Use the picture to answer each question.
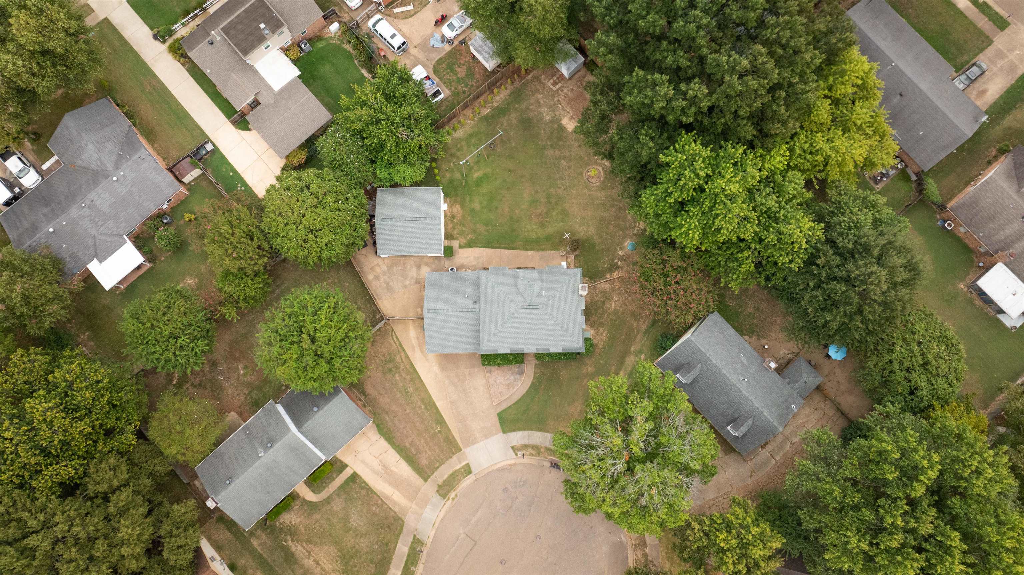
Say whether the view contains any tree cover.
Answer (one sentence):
Yes, some tree cover is visible.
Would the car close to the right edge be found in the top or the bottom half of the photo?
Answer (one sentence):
The top half of the photo is where the car close to the right edge is.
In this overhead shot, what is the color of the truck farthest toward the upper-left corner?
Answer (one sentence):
The truck farthest toward the upper-left corner is white.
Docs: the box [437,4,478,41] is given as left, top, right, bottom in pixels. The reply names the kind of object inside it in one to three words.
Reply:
car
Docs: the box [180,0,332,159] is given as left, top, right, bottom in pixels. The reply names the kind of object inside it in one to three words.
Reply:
house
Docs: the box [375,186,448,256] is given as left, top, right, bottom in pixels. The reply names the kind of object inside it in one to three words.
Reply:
building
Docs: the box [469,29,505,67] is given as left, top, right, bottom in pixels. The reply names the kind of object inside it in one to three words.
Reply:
shed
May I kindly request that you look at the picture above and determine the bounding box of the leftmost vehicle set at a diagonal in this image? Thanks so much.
[0,141,38,191]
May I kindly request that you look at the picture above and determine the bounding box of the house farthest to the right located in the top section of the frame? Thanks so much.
[941,132,1024,320]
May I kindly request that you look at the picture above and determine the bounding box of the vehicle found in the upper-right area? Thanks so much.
[953,55,996,91]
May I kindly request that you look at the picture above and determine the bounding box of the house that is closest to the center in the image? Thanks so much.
[423,266,588,355]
